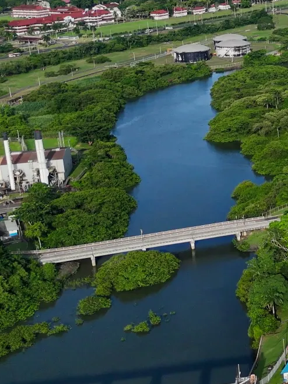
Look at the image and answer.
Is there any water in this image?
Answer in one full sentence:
Yes, water can be seen from above here.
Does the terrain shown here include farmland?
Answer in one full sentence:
No, there's no farmland in this view.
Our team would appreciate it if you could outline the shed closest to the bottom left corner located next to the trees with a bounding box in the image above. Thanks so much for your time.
[1,212,31,236]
